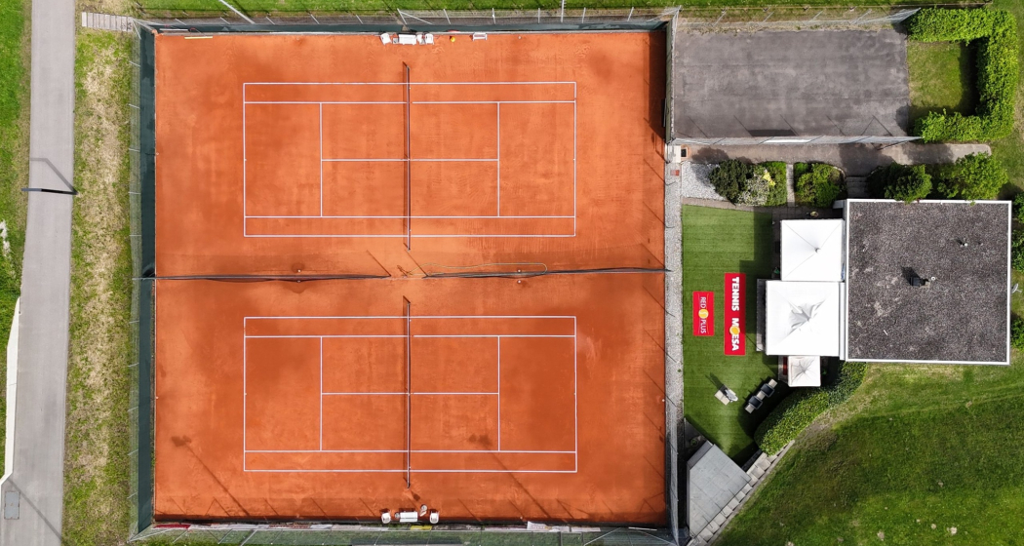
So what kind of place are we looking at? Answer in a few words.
sports ground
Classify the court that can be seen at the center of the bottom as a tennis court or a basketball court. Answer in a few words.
tennis court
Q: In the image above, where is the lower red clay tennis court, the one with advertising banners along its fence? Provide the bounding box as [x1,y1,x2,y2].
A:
[155,276,666,523]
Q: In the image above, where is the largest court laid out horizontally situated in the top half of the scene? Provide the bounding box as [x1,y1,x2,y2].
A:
[155,32,666,276]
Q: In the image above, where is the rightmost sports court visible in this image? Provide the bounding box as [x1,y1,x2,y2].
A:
[673,26,910,145]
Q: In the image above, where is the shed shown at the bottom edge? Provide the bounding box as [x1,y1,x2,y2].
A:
[688,441,751,538]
